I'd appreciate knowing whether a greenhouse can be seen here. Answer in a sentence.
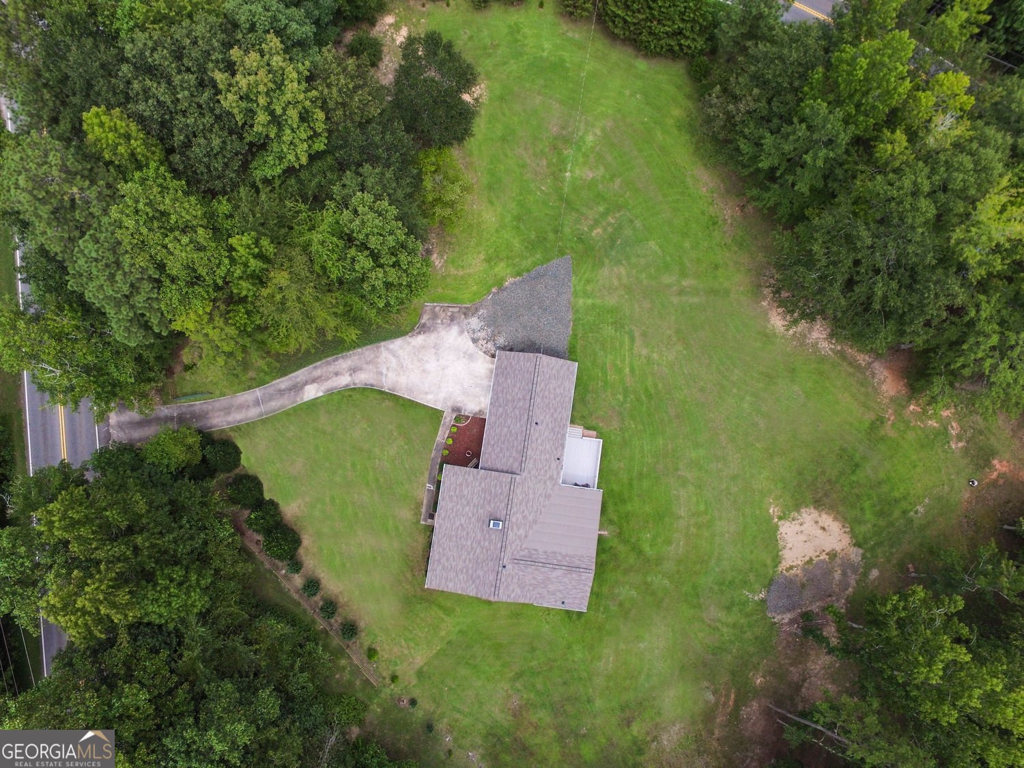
No, there appears to be no greenhouse in this shot.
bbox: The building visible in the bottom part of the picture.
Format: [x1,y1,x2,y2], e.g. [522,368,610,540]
[424,351,603,614]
